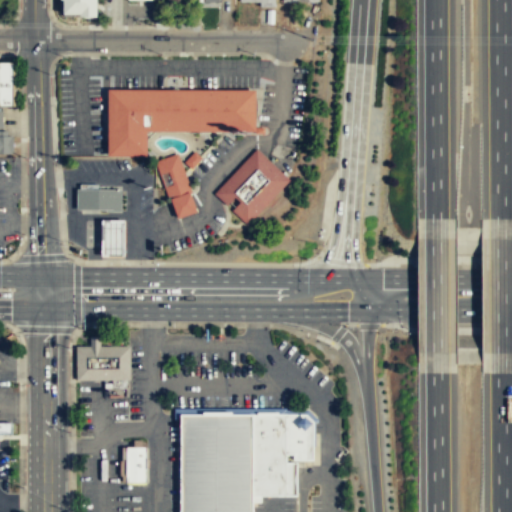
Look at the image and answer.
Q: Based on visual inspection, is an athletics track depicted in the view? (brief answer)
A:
No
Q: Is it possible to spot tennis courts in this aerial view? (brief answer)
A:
No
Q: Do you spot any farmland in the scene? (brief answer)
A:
No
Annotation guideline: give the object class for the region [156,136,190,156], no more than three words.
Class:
swimming pool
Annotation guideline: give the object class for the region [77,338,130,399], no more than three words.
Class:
building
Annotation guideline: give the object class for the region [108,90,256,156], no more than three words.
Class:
building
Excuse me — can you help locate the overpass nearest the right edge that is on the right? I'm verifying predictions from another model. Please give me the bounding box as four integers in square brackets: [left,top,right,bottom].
[483,217,512,375]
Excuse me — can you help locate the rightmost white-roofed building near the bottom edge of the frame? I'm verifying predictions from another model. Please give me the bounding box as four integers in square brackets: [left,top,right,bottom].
[174,408,319,512]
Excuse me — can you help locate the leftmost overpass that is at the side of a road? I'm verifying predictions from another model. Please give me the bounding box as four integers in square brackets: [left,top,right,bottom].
[417,217,458,375]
